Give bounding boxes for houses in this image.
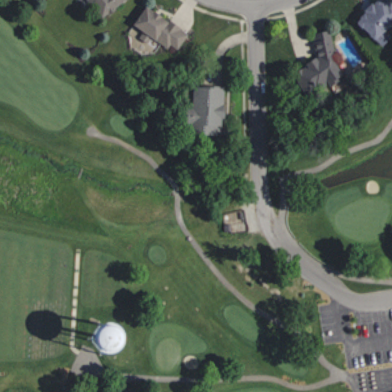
[187,86,226,136]
[86,0,127,19]
[356,2,392,48]
[134,8,190,50]
[299,32,342,92]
